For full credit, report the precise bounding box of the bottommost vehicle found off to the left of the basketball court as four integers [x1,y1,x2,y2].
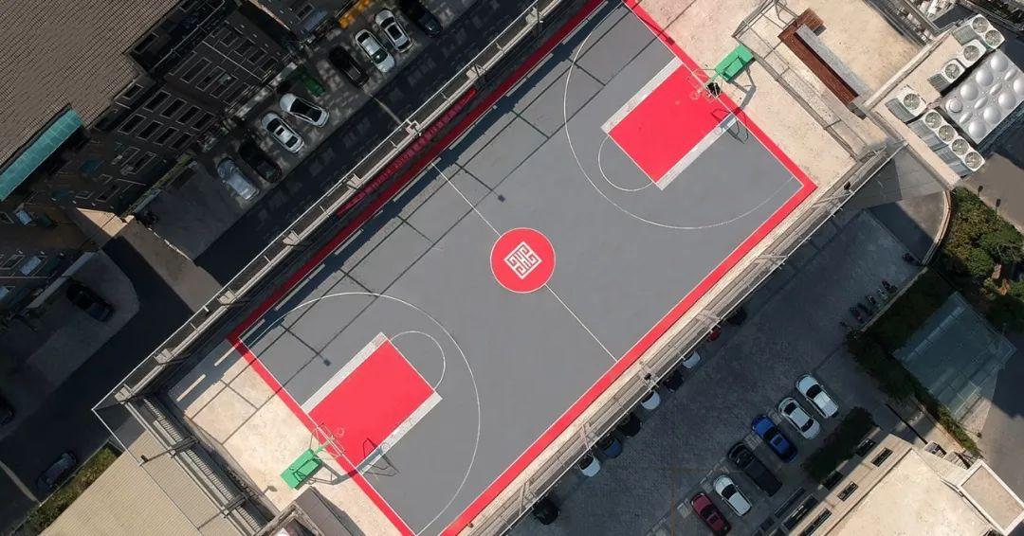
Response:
[30,449,83,495]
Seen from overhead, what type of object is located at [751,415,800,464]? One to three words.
car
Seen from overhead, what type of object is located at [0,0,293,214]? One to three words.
building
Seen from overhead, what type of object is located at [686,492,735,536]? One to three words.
car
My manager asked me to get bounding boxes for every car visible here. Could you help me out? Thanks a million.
[700,321,726,348]
[710,473,754,519]
[374,10,415,50]
[611,405,644,440]
[259,112,306,153]
[397,0,440,36]
[730,444,783,497]
[353,29,397,75]
[676,343,707,375]
[793,372,842,420]
[775,394,823,444]
[65,284,117,322]
[722,299,754,332]
[634,386,665,415]
[686,492,735,536]
[30,449,83,495]
[594,425,625,459]
[214,158,259,203]
[751,415,800,464]
[655,361,688,397]
[528,486,559,523]
[236,137,281,181]
[279,91,329,129]
[572,445,601,478]
[327,44,371,88]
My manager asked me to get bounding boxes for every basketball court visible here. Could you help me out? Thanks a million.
[224,0,819,536]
